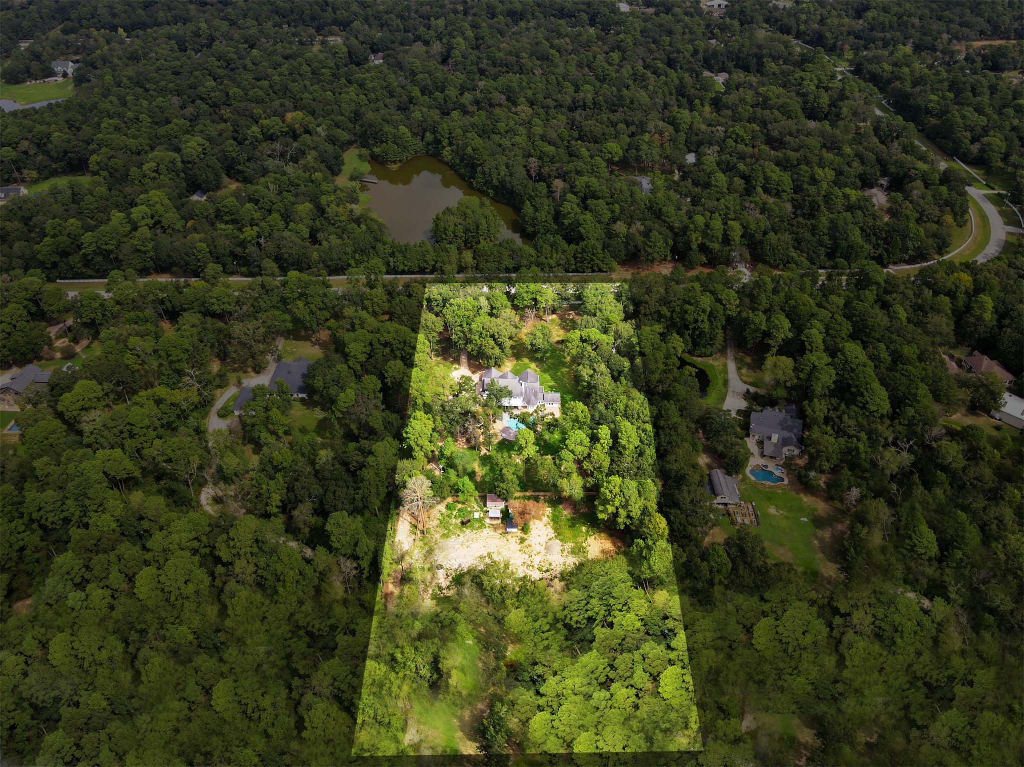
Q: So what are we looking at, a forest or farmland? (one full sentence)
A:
This image shows a forest.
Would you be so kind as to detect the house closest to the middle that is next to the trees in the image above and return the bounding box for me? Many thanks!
[477,366,562,414]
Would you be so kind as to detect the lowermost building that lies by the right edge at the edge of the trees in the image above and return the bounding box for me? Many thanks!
[991,387,1024,430]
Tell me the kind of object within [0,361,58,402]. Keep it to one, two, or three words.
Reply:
house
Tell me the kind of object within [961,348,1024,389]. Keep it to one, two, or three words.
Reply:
house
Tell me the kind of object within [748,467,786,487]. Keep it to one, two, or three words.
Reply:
swimming pool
